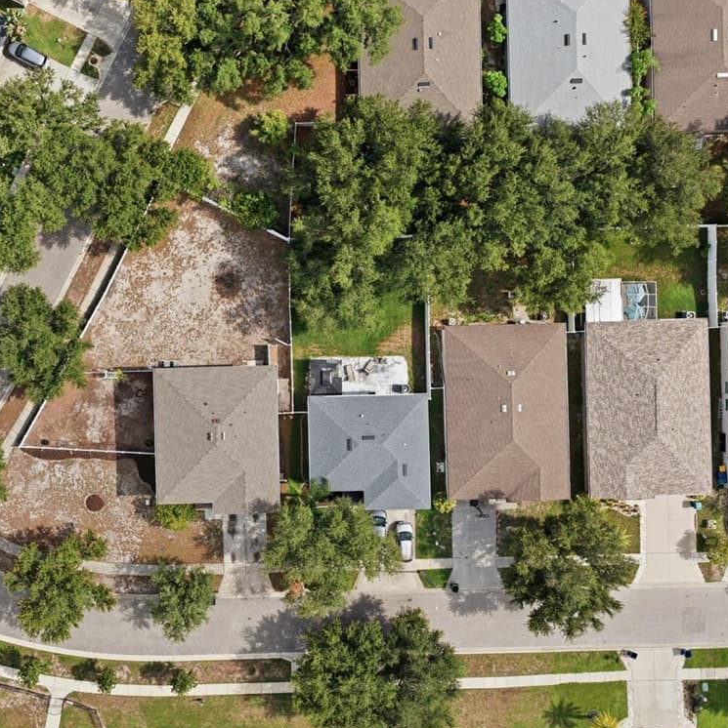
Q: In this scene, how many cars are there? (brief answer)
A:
three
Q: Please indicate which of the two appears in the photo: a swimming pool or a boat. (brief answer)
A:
swimming pool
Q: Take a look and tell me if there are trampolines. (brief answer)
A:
No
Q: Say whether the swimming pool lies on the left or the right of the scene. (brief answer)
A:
right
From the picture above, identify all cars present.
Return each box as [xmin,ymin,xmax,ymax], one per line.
[394,519,417,565]
[3,38,52,71]
[369,511,391,553]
